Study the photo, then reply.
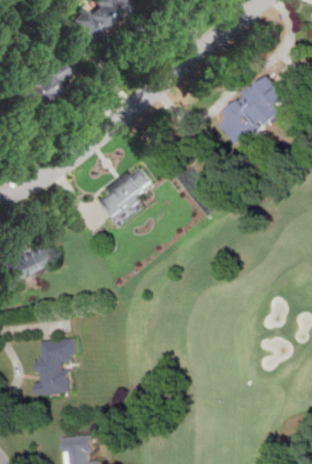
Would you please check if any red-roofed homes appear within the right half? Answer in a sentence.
No, within the right half there is no red-roofed home.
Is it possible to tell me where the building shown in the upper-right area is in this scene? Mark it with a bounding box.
[217,81,279,139]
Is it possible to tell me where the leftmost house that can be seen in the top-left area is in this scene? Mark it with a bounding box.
[41,64,74,100]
